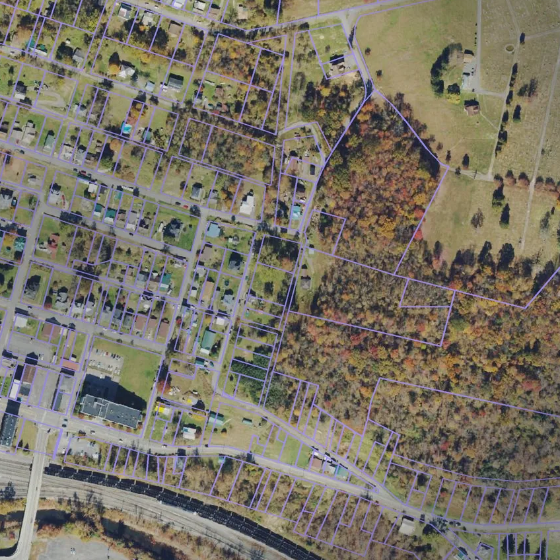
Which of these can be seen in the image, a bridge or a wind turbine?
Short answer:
bridge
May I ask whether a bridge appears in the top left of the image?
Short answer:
No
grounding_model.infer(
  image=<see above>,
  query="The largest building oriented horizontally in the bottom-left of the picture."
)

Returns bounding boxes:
[80,396,144,428]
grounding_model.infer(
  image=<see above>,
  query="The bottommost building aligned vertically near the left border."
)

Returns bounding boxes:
[0,410,20,448]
